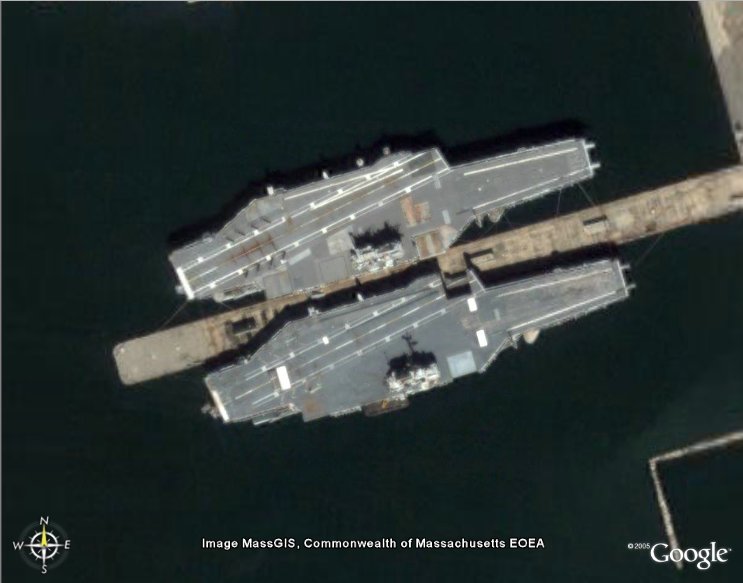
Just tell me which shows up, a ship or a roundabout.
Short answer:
ship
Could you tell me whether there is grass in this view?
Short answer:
No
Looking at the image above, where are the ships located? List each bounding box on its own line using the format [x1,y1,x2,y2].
[364,397,408,418]
[169,137,601,302]
[202,258,636,425]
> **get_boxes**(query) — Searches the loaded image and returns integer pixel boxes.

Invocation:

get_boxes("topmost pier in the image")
[114,168,743,385]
